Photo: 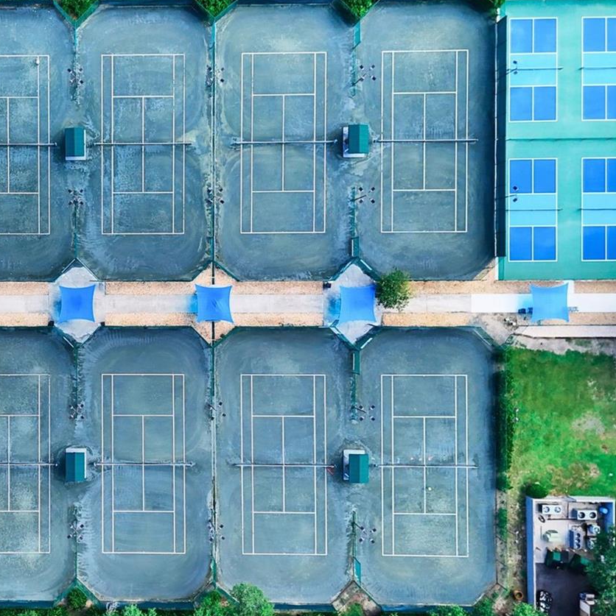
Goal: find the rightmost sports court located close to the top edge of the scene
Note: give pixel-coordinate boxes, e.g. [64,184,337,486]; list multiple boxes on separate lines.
[577,16,616,121]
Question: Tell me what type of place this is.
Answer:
sports ground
